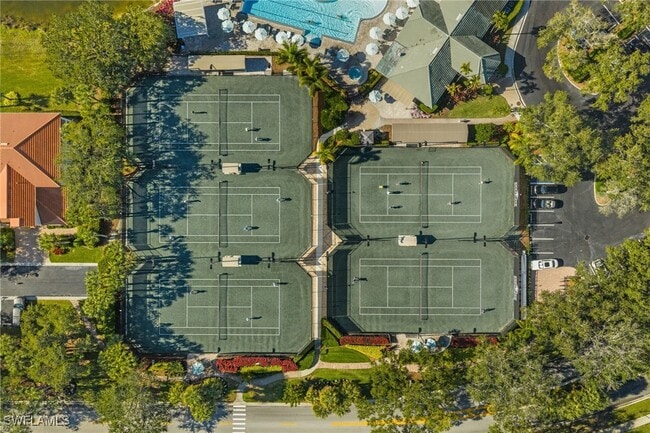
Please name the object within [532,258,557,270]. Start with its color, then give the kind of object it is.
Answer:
white vehicle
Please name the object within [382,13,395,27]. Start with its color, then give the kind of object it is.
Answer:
white umbrella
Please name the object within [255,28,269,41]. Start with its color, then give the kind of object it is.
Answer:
white umbrella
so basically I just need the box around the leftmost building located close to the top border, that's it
[173,0,211,43]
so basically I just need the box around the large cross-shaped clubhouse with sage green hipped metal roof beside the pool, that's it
[390,0,508,108]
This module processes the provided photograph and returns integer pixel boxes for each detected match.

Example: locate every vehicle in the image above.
[532,258,557,270]
[533,198,557,210]
[0,307,10,331]
[533,185,557,196]
[12,298,28,326]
